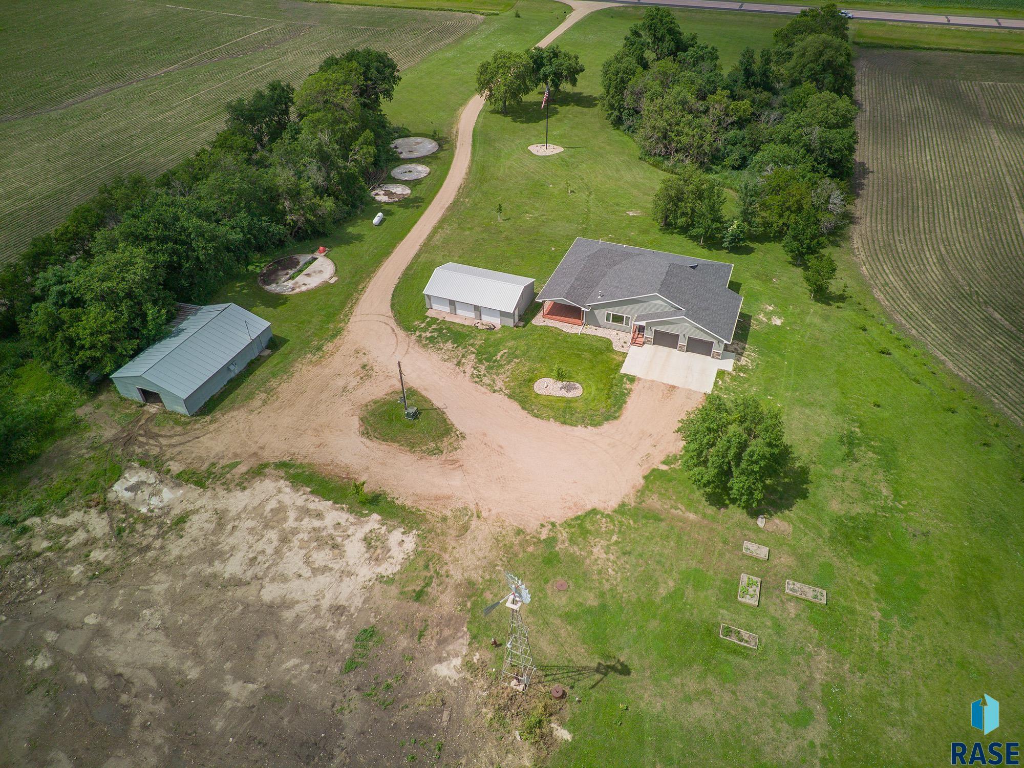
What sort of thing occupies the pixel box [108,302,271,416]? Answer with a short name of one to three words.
barn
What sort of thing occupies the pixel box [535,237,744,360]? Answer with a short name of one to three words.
house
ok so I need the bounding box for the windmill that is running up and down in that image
[481,572,537,698]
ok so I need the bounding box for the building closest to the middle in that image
[422,262,537,326]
